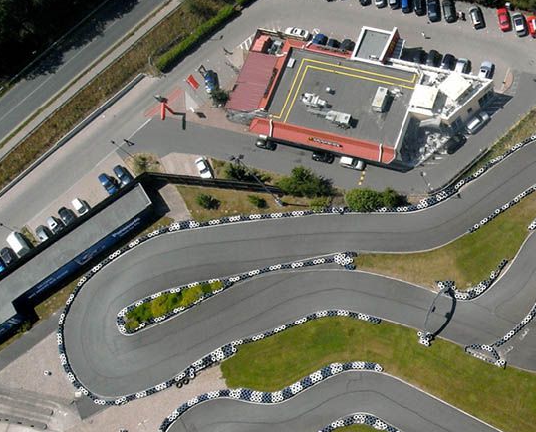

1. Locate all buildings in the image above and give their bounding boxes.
[227,26,497,172]
[0,182,159,337]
